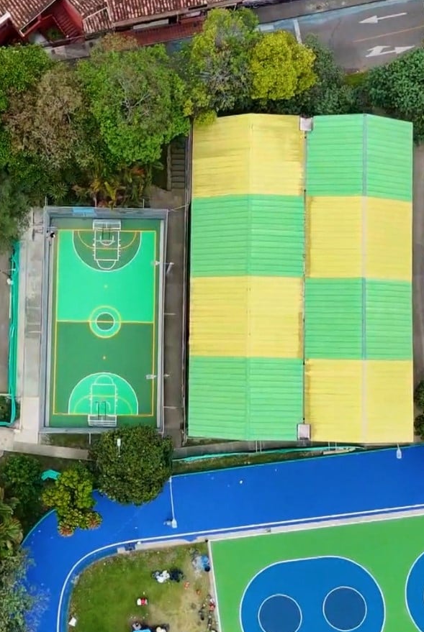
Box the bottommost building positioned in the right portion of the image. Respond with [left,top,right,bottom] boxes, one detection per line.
[184,113,413,443]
